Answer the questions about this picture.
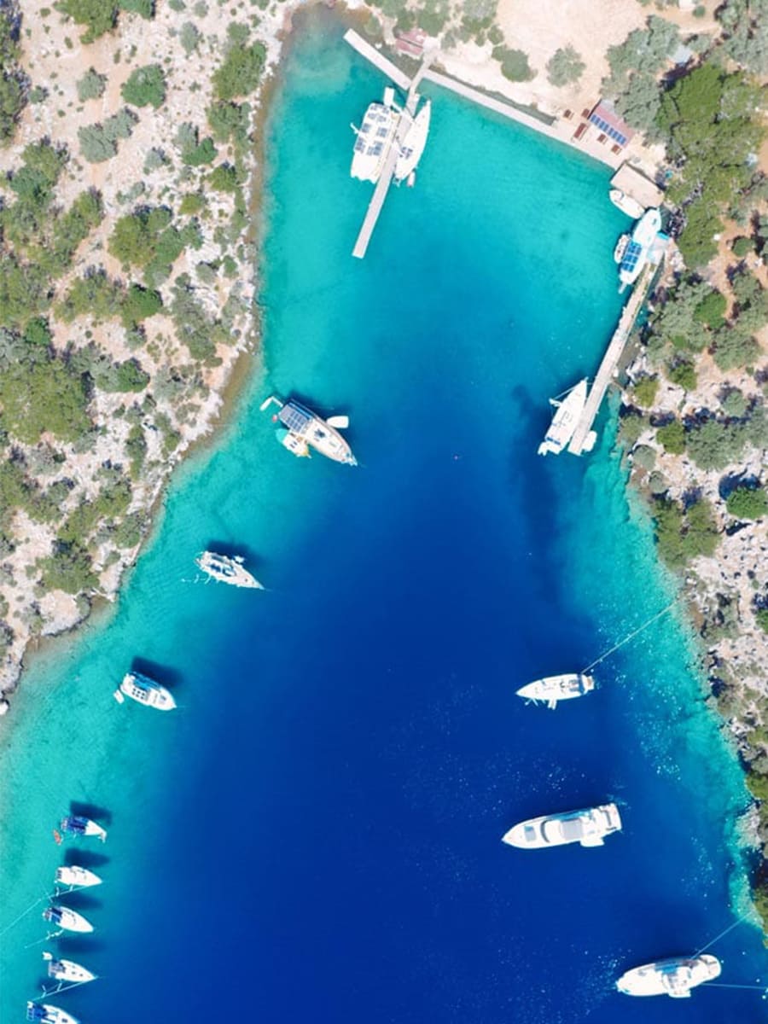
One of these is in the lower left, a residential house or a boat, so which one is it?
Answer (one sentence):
You can see a boat in the lower left.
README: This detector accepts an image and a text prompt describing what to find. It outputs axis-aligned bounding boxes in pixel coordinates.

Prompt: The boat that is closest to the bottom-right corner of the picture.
[615,952,722,1000]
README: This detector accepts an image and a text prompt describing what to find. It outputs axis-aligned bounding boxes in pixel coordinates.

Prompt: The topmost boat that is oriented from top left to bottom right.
[610,192,644,221]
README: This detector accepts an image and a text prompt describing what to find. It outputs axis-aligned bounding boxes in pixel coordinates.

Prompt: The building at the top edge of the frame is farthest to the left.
[396,28,428,63]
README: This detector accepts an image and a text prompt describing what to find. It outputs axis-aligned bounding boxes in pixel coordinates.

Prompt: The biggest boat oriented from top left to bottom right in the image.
[269,398,361,467]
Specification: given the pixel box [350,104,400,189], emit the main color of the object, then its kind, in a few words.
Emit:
white boat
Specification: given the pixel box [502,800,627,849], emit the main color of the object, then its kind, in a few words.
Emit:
white boat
